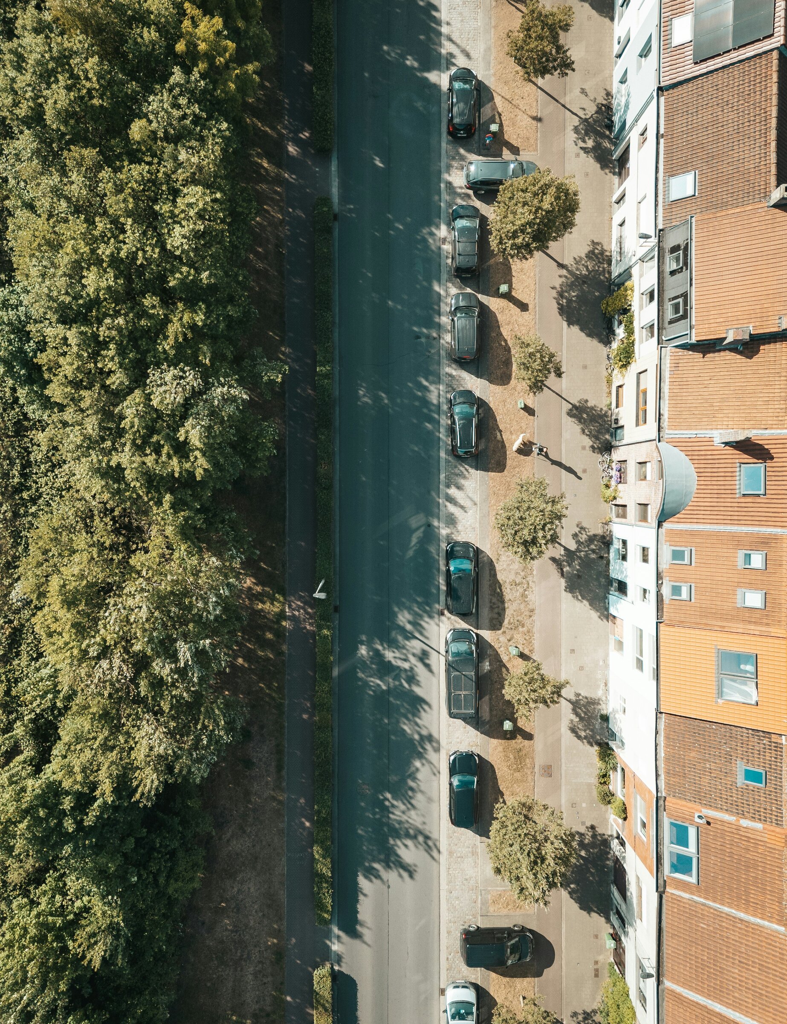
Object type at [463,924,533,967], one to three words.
van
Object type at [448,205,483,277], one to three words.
car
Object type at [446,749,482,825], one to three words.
vehicle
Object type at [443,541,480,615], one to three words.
car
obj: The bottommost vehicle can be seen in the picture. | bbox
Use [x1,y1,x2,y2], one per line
[443,979,479,1024]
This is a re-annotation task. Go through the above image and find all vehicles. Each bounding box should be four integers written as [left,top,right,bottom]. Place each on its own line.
[463,924,533,967]
[443,541,480,615]
[443,979,479,1024]
[446,67,482,138]
[448,205,483,277]
[443,627,481,717]
[447,390,482,457]
[446,749,482,825]
[447,292,484,362]
[463,155,538,194]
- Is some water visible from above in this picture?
No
